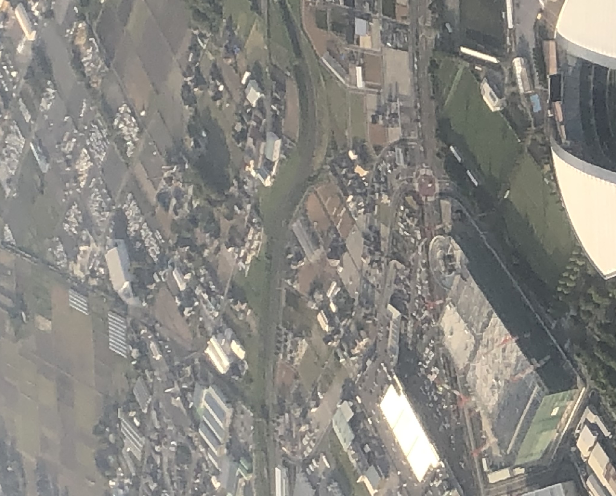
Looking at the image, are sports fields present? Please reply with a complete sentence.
Yes, a sports field is visible in the scene.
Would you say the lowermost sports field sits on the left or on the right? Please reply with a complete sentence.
It is on the right.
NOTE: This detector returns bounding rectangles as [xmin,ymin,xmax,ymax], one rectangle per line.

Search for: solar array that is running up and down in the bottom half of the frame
[107,313,127,358]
